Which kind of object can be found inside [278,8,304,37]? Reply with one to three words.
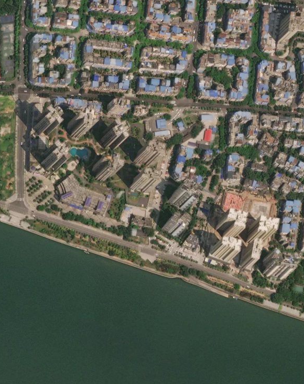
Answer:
building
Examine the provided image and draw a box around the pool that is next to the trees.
[69,147,89,159]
